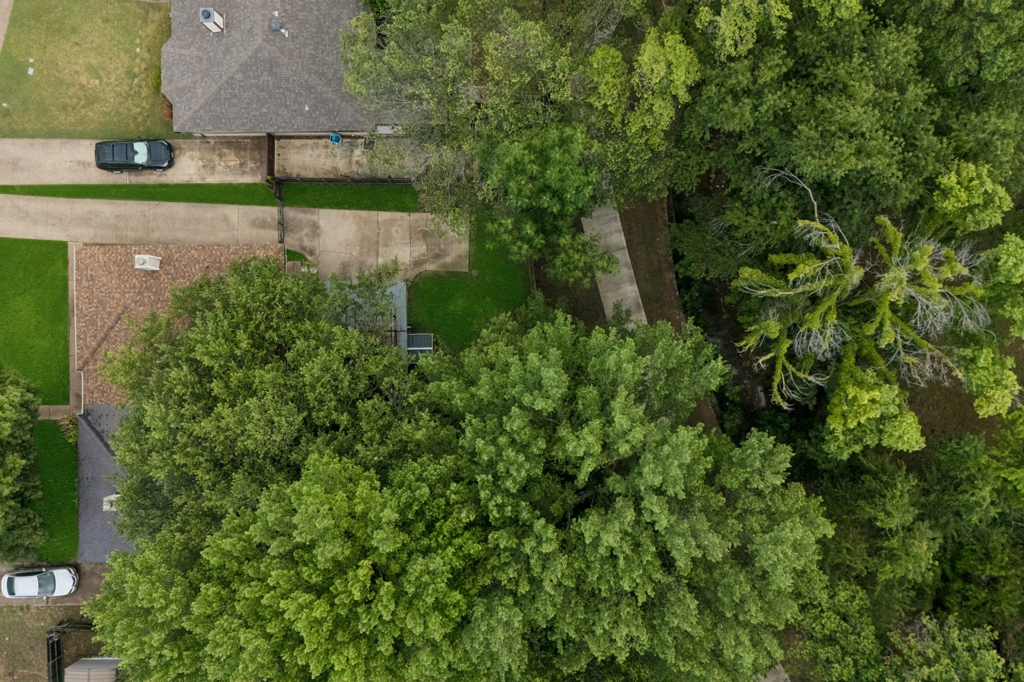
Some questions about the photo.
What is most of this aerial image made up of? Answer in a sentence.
For the most part, this view shows trees.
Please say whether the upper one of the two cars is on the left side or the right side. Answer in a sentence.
You can find the upper one of the two cars on the left side of the picture.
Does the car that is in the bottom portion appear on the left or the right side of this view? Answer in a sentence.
The car that is in the bottom portion sits on the left side.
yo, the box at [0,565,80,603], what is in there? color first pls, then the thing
white car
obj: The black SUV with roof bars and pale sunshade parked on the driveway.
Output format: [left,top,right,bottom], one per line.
[90,134,175,172]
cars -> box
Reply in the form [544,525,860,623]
[90,134,175,172]
[0,565,80,603]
